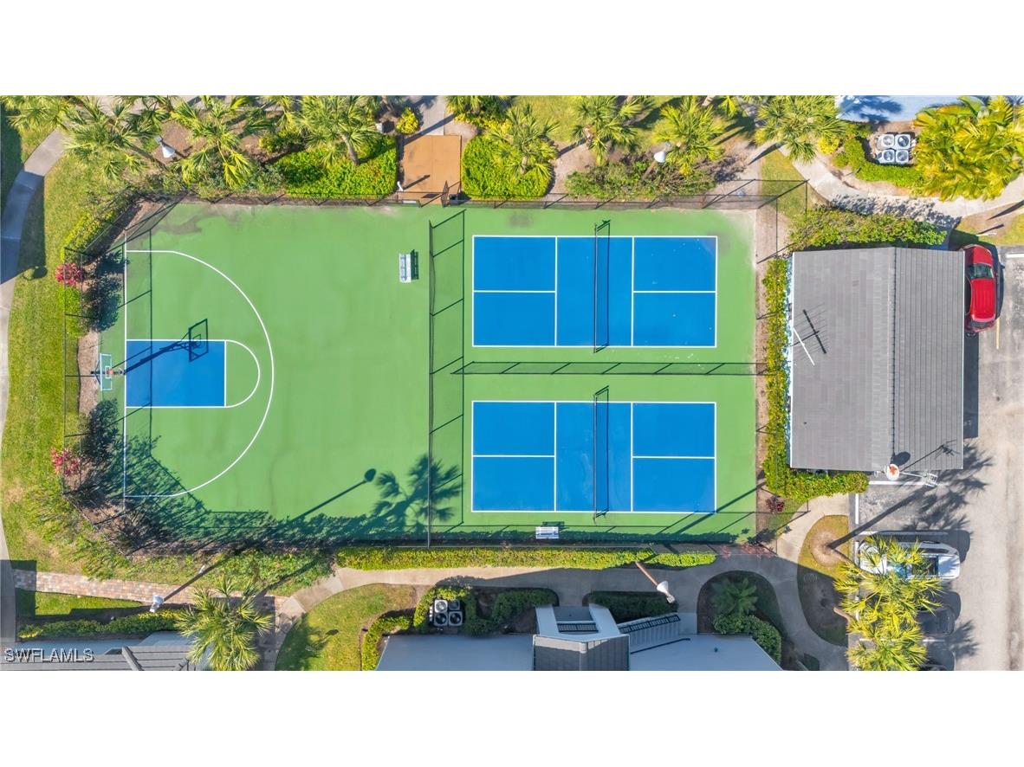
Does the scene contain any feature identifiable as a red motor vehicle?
Yes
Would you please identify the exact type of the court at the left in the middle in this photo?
basketball court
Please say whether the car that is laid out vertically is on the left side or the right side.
right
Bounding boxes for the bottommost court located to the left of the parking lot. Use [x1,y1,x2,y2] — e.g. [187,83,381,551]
[433,374,755,541]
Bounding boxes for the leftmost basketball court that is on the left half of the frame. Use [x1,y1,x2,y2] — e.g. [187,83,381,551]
[100,204,433,541]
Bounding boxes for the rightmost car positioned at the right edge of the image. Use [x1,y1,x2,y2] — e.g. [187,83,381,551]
[962,249,1001,336]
